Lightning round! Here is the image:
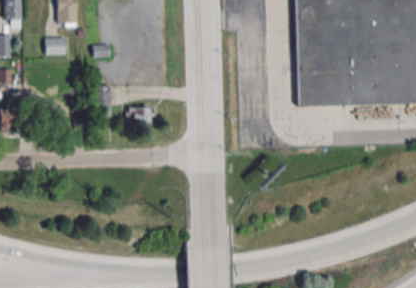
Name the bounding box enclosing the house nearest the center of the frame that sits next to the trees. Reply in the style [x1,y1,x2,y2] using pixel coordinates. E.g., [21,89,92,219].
[126,106,154,124]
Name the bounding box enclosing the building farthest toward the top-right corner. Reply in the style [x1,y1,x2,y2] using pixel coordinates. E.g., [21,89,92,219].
[294,0,416,106]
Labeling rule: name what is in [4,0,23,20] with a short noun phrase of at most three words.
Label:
house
